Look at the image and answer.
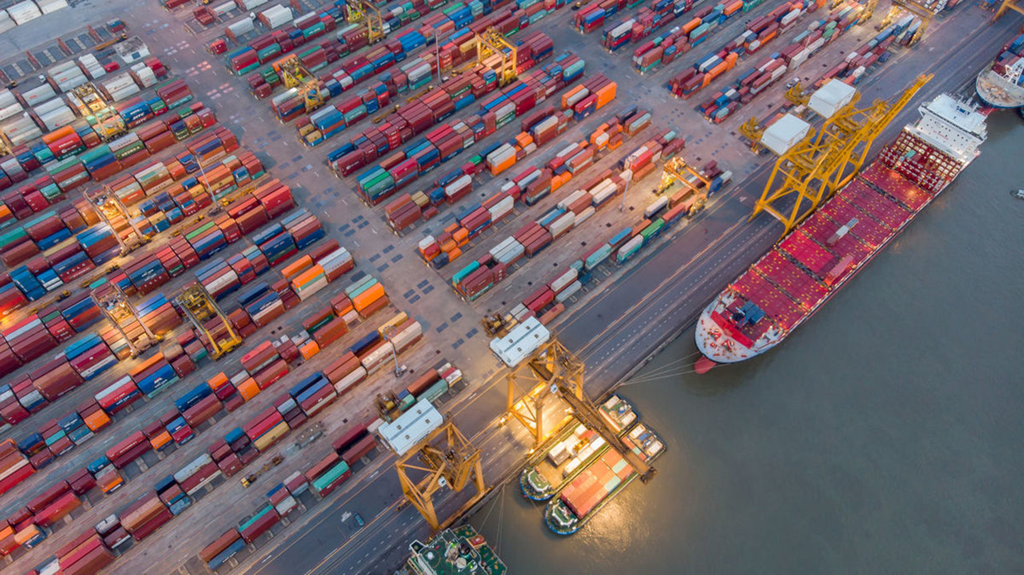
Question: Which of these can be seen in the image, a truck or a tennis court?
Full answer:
I can see a truck in this picture.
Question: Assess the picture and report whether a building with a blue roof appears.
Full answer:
No, this view has no building with a blue roof in it.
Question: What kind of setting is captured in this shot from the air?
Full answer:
This looks like a port.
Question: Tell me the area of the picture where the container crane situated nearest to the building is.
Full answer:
The container crane situated nearest to the building appears toward the top left of the photo.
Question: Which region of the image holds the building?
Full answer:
The building is located in the top left region of the scene.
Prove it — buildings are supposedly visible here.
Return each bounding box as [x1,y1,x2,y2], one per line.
[113,35,149,62]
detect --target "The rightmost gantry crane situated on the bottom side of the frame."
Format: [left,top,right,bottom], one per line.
[486,313,668,489]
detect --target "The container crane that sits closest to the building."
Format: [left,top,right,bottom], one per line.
[66,75,133,145]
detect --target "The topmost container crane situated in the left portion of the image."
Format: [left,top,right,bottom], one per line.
[344,0,391,46]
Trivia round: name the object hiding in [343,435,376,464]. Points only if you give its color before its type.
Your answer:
red shipping container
